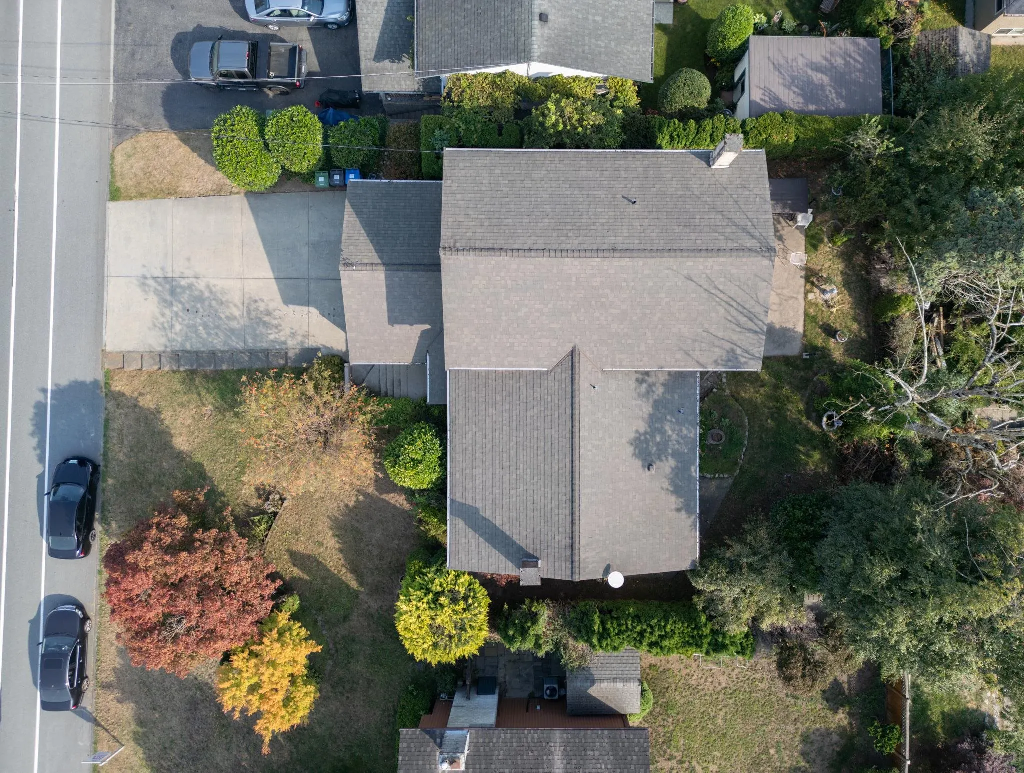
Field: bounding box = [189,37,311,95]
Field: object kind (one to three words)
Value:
truck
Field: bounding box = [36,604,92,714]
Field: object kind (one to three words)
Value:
car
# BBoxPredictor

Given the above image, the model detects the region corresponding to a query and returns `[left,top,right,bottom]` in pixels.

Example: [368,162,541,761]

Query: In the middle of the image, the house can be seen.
[340,133,776,585]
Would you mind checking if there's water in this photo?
No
